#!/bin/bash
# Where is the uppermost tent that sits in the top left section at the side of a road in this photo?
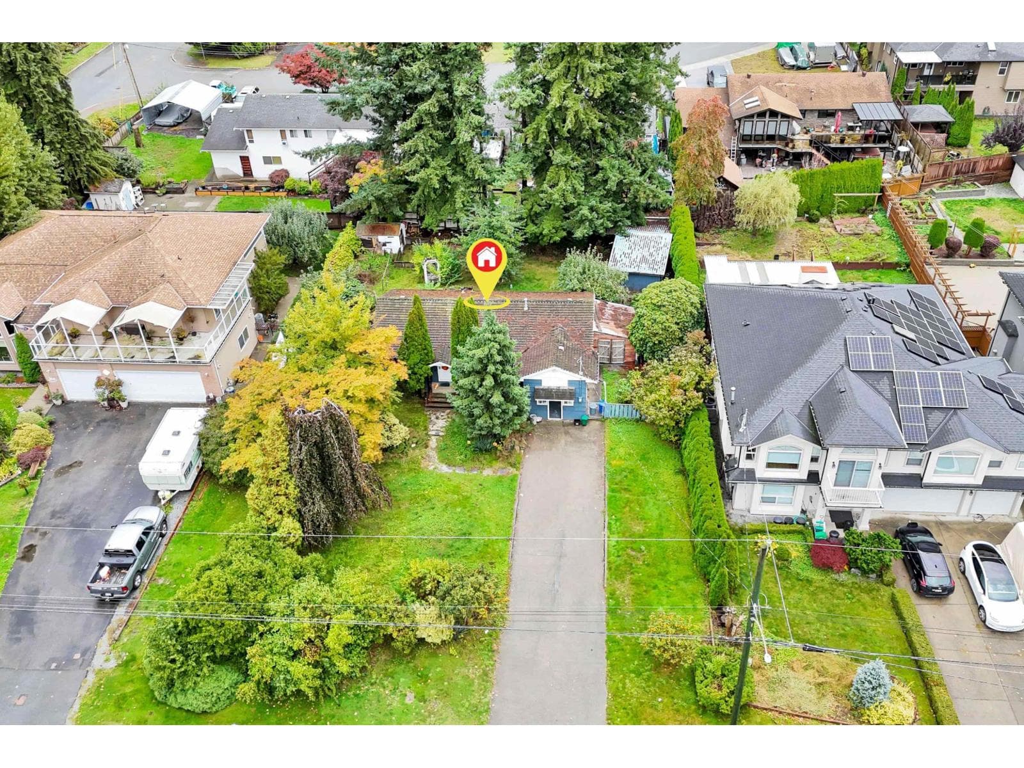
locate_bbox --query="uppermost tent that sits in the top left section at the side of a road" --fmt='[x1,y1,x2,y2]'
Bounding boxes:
[136,78,230,131]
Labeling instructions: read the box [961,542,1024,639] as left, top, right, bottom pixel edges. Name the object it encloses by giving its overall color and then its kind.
white car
